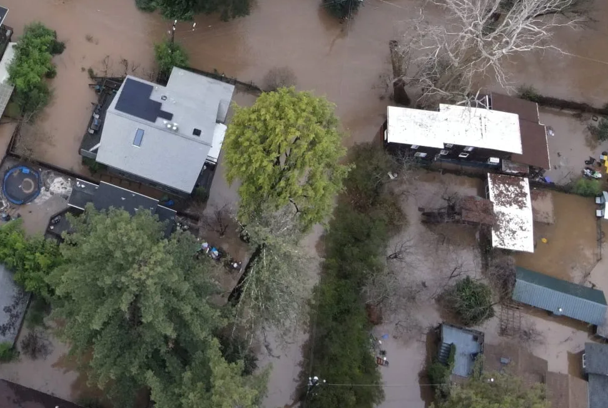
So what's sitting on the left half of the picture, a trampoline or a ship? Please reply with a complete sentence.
Looking on the left half of the picture, you will find a trampoline.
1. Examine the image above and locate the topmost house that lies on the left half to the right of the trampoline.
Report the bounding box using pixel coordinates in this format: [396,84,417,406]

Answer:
[80,67,235,200]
